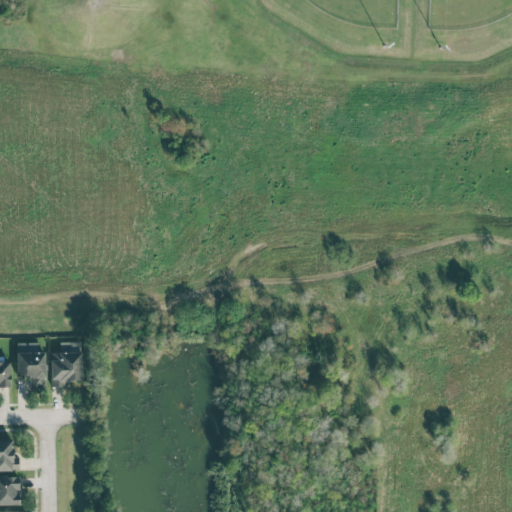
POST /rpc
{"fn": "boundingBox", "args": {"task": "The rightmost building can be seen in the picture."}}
[51,343,82,384]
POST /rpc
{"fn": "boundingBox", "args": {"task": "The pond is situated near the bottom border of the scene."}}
[104,340,220,512]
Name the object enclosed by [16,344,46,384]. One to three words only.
house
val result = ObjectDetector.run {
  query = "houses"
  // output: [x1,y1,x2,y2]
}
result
[51,343,82,384]
[16,344,46,384]
[0,362,11,388]
[0,476,21,507]
[0,442,18,472]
